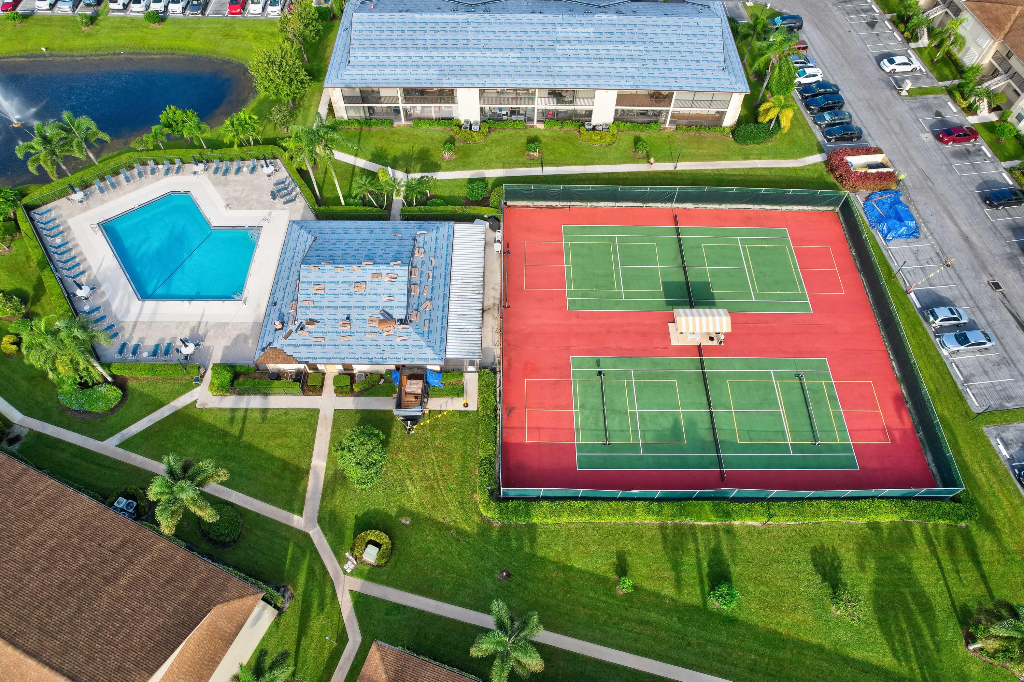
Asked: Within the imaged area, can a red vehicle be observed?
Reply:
Yes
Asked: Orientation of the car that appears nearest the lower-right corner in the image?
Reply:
from side to side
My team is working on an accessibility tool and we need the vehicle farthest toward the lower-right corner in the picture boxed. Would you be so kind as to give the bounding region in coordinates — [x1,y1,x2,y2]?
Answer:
[940,330,997,354]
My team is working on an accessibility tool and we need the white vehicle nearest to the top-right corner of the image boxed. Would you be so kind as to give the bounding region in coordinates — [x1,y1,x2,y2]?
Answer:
[882,55,923,73]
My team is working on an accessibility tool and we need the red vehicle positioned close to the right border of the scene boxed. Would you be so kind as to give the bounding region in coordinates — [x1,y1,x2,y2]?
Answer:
[938,125,982,145]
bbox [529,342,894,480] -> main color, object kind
green tennis court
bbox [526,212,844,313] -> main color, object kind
green tennis court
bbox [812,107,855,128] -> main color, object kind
blue car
